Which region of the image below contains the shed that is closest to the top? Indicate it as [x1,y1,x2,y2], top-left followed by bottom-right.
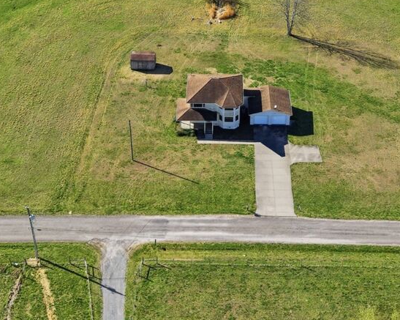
[129,50,155,69]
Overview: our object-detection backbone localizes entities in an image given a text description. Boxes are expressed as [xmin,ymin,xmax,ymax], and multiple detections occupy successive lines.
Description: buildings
[176,74,294,141]
[129,50,155,69]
